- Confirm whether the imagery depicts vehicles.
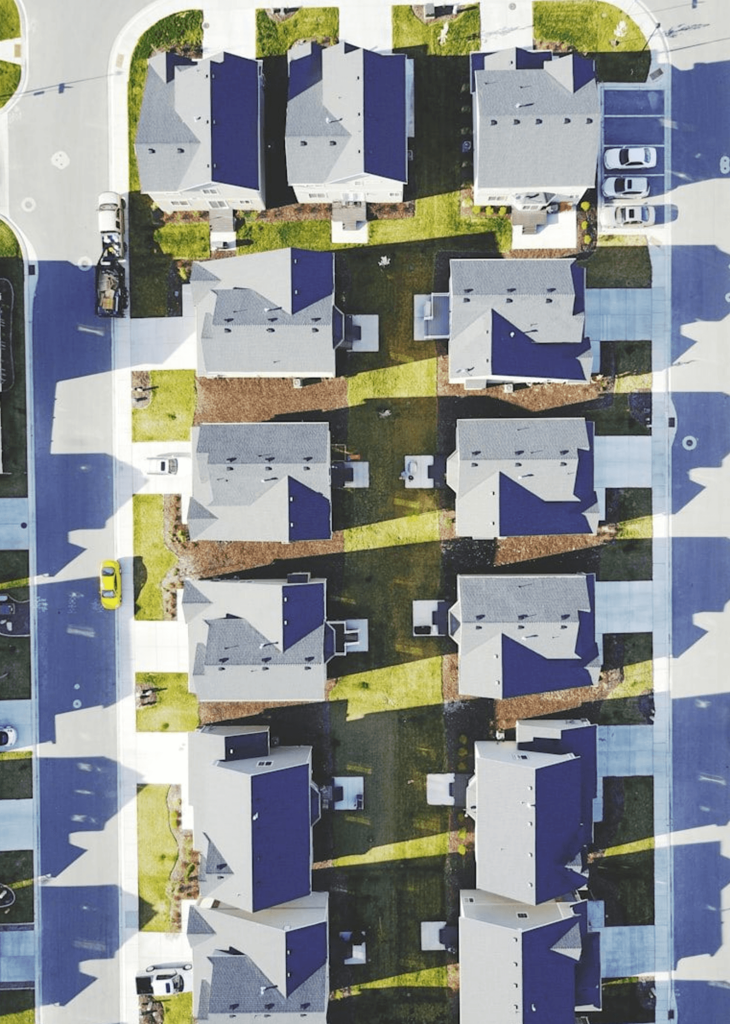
Yes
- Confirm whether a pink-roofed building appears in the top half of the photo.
No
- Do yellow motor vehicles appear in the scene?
Yes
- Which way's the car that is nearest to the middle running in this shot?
from left to right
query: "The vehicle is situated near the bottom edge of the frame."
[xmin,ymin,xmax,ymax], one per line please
[128,966,191,999]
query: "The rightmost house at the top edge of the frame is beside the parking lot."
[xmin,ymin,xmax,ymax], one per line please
[470,47,601,210]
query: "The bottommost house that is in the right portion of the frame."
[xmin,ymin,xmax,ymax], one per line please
[456,891,601,1024]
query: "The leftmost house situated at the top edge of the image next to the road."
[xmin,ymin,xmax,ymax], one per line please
[135,51,263,209]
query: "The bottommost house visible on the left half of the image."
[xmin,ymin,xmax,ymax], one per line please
[187,895,328,1024]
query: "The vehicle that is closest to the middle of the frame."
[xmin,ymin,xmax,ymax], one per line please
[136,455,190,480]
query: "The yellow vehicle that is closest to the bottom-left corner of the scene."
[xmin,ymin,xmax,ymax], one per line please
[96,559,121,609]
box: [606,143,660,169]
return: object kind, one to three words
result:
car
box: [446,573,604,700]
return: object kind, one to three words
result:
house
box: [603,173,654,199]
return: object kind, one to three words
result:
car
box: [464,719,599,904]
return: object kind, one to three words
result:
house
